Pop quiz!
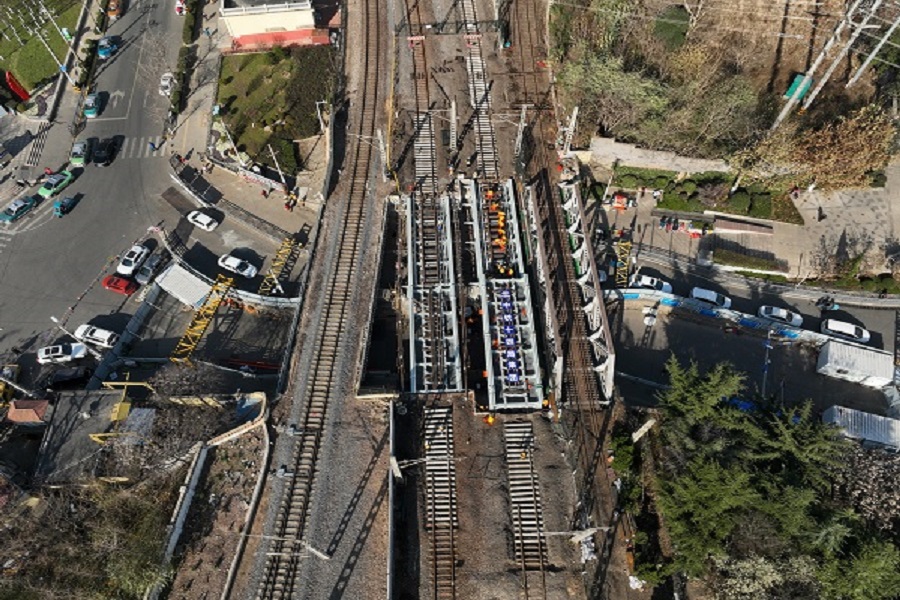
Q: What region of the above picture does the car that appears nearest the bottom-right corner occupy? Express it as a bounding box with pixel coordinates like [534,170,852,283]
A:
[817,314,873,347]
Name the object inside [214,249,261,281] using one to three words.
car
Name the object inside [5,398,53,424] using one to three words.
building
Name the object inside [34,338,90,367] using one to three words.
car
